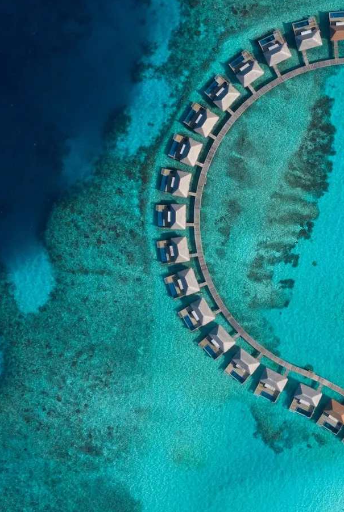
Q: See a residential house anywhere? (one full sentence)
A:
Yes, the frame does contain a residential house.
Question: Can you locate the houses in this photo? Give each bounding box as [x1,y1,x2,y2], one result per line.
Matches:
[182,101,221,137]
[292,16,323,52]
[328,11,344,42]
[224,348,261,386]
[178,297,216,334]
[198,325,236,361]
[164,268,202,300]
[287,382,322,419]
[155,203,189,229]
[257,29,293,68]
[227,49,265,88]
[156,237,192,265]
[166,133,204,166]
[159,168,193,197]
[315,398,344,437]
[253,367,289,405]
[202,73,242,112]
